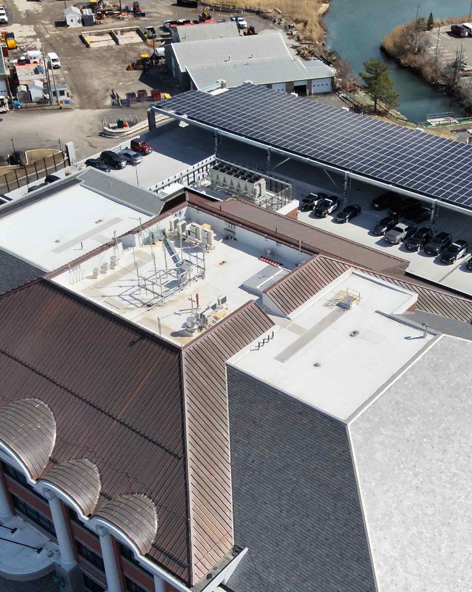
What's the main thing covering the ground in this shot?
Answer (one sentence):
For the most part, this view shows buildings.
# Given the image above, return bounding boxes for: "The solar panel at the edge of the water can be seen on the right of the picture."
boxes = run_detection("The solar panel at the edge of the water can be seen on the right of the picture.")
[156,82,472,204]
